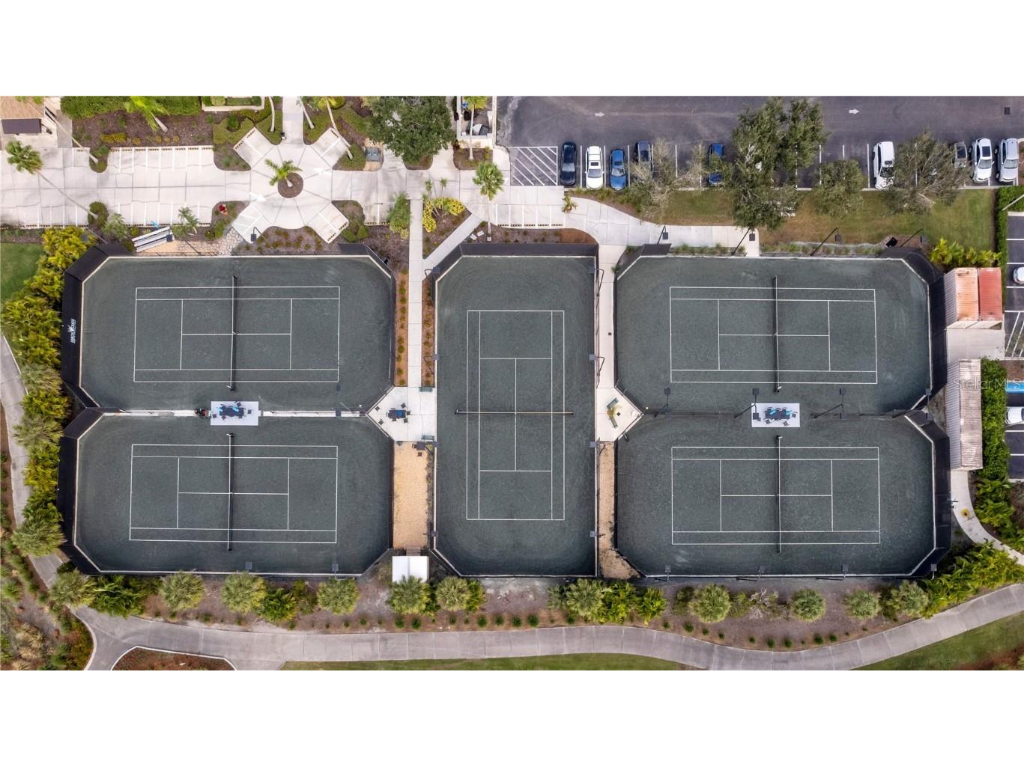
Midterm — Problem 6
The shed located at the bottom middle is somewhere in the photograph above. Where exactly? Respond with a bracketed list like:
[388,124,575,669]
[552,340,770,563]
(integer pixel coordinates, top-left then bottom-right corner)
[394,557,430,584]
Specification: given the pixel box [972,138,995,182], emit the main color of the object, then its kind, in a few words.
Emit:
white car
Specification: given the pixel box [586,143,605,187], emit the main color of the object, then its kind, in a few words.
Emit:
white car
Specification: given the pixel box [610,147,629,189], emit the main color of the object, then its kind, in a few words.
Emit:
blue car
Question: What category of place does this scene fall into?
sports ground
